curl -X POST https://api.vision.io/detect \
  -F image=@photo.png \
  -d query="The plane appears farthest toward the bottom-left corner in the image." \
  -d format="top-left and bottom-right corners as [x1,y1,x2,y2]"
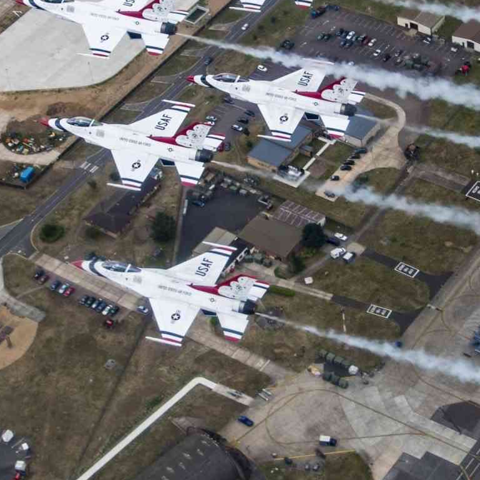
[68,241,269,347]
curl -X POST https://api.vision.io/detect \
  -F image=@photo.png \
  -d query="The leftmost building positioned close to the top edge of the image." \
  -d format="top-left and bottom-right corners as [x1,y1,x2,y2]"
[397,8,445,34]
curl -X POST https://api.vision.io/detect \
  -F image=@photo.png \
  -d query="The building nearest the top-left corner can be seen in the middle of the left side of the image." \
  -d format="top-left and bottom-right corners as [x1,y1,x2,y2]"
[83,177,162,239]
